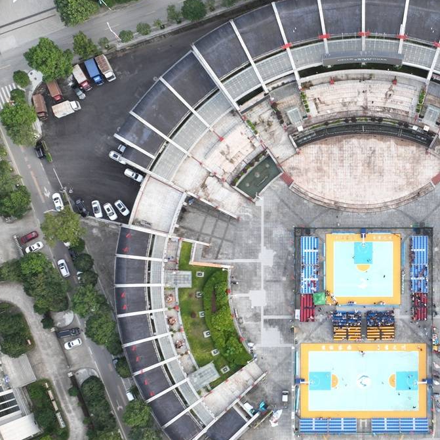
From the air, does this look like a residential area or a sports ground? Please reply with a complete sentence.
The picture captures a sports ground.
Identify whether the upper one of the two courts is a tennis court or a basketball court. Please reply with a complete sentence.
The upper one of the two courts in the image is a basketball court.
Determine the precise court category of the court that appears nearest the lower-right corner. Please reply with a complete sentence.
The court that appears nearest the lower-right corner in the image is a basketball court.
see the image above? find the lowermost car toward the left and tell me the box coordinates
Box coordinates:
[123,387,137,402]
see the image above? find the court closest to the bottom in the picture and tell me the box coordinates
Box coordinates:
[301,343,427,428]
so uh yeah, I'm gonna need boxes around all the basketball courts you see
[301,343,427,428]
[326,233,401,306]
